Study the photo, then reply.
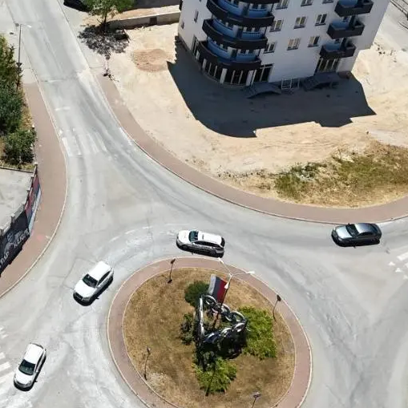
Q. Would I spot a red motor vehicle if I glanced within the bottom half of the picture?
No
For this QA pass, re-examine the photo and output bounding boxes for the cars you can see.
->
[12,339,49,391]
[64,0,95,9]
[74,259,115,303]
[330,221,387,246]
[176,229,227,258]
